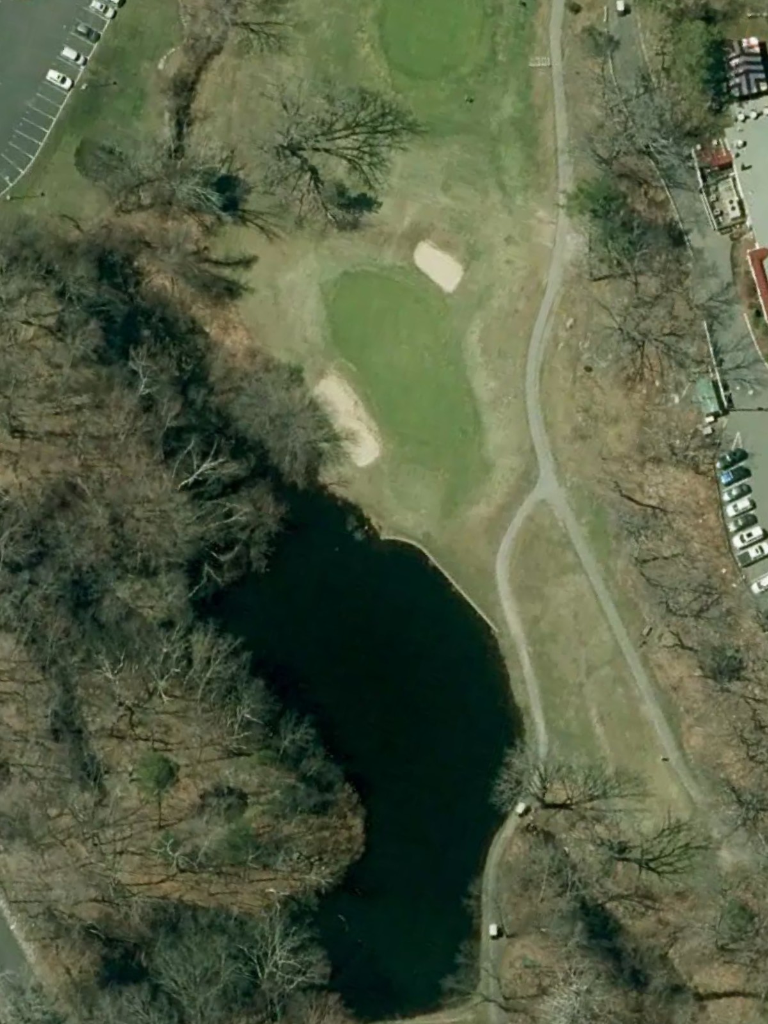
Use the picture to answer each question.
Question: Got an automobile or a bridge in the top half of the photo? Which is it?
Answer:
automobile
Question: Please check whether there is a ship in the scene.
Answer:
No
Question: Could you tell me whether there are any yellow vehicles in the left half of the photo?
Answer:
No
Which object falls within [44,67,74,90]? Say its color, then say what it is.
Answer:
white truck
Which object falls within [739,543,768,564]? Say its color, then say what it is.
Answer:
white truck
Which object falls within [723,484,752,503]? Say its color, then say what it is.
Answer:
gray car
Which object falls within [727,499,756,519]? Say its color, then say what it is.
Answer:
white car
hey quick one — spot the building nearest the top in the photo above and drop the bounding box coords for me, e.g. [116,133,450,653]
[727,37,768,102]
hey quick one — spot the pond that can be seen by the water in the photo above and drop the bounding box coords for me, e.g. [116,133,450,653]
[182,481,523,1023]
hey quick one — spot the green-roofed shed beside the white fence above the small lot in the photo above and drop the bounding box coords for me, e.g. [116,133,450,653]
[697,377,720,418]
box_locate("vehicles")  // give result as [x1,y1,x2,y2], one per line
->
[88,0,118,19]
[44,67,74,90]
[60,45,88,66]
[733,528,763,548]
[616,1,624,15]
[739,543,768,564]
[723,484,752,503]
[729,514,758,533]
[721,466,751,486]
[516,802,527,818]
[489,925,497,939]
[75,23,102,43]
[752,577,768,593]
[727,499,756,519]
[718,450,748,469]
